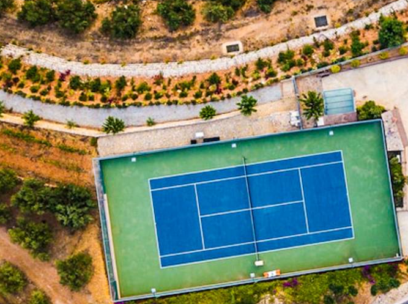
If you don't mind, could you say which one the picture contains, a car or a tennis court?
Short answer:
tennis court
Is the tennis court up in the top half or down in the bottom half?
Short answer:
bottom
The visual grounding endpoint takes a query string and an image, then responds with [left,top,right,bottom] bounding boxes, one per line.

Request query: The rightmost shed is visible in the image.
[382,107,408,151]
